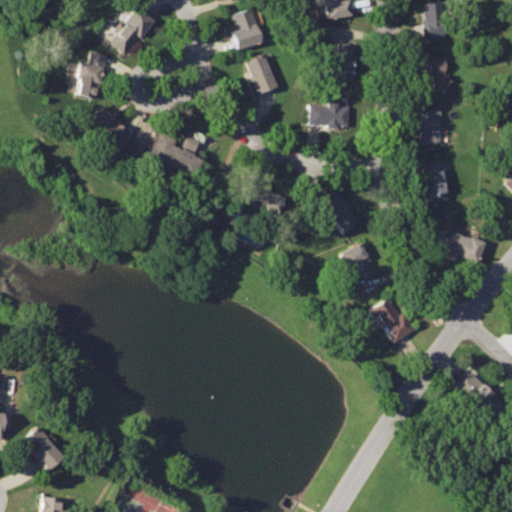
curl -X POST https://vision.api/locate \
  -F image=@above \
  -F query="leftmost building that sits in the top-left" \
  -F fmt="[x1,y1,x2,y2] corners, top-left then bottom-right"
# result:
[68,52,103,98]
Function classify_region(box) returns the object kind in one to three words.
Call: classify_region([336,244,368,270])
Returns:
house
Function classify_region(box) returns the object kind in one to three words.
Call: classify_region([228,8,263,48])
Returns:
house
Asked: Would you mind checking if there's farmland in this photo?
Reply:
No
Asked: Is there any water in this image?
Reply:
Yes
